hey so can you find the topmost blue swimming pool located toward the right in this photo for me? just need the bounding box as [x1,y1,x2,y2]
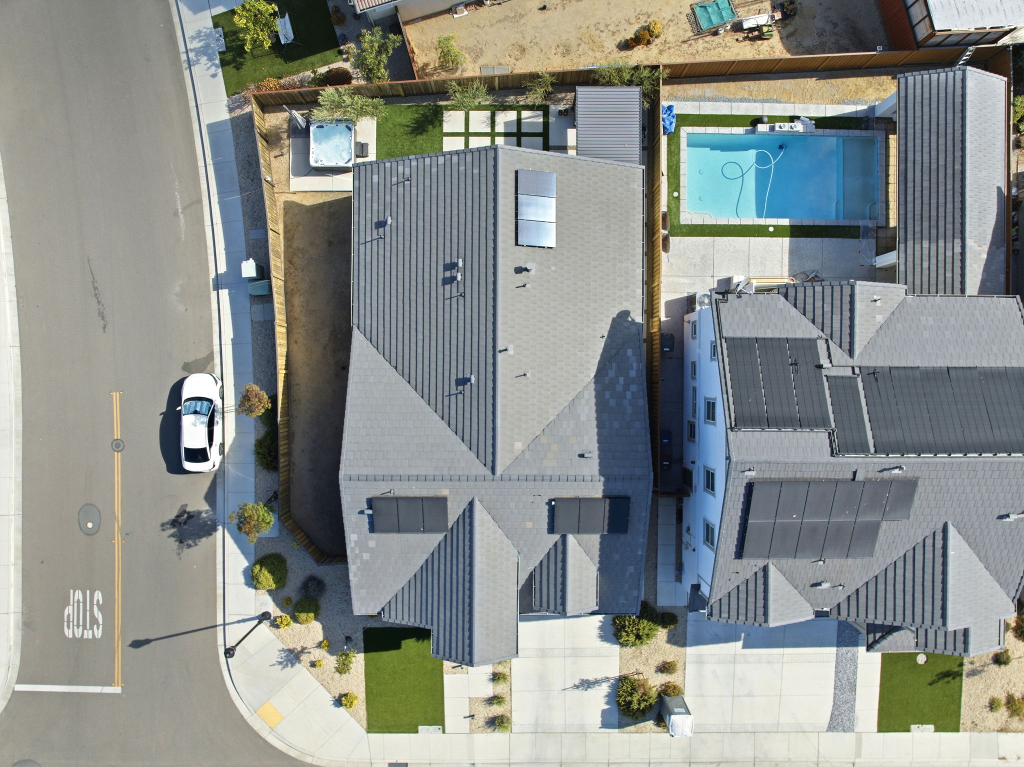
[680,127,885,226]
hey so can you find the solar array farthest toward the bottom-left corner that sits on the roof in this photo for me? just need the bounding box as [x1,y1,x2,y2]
[371,497,449,533]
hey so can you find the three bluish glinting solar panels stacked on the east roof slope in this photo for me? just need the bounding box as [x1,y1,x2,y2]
[517,169,555,249]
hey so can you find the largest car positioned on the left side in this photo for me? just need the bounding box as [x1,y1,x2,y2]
[172,374,223,472]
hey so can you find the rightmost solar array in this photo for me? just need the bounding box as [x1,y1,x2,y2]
[742,481,919,559]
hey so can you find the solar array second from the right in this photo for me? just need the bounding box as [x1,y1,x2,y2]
[553,498,630,533]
